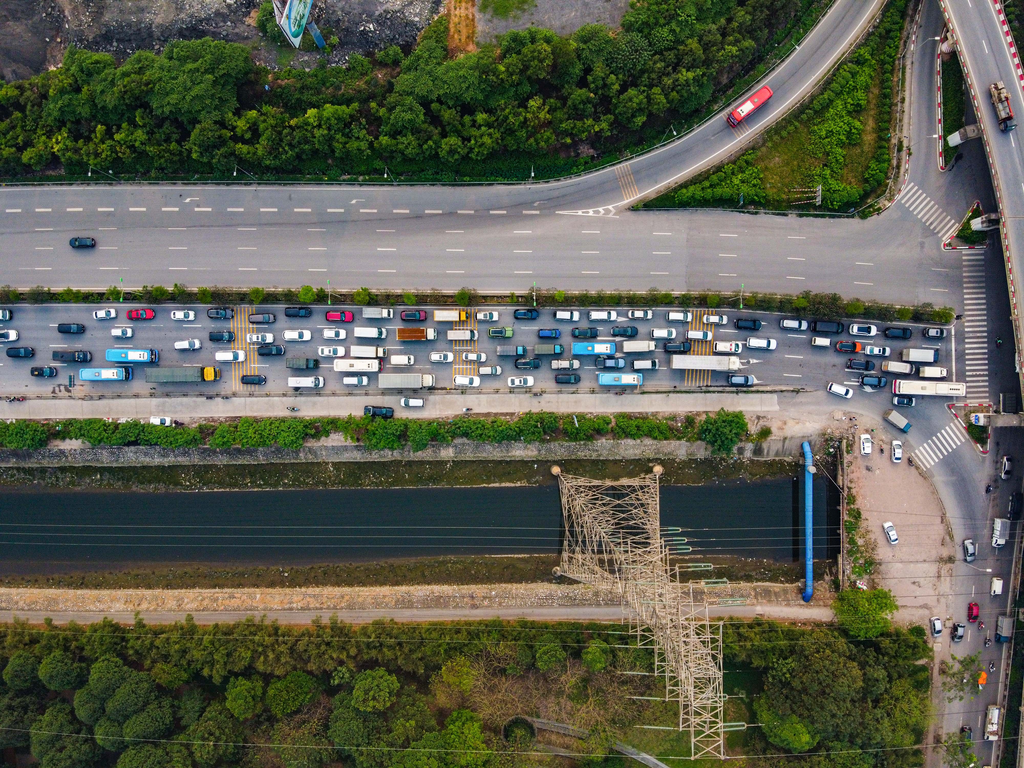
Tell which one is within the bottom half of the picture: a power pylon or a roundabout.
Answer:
power pylon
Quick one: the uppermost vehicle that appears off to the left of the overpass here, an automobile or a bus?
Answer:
bus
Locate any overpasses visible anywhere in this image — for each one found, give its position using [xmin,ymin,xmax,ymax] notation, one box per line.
[931,0,1024,500]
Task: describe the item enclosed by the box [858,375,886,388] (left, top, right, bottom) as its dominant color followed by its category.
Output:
blue vehicle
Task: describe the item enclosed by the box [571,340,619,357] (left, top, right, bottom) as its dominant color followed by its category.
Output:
blue vehicle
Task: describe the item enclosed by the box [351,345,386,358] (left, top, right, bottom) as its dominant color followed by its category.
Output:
white vehicle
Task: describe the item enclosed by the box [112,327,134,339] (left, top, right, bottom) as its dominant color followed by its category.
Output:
white vehicle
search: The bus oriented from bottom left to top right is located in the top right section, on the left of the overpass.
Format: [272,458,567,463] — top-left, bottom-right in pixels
[725,82,777,130]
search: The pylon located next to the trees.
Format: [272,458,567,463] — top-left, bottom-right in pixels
[550,464,755,760]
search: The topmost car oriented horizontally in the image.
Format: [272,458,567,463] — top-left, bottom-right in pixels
[71,237,96,249]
